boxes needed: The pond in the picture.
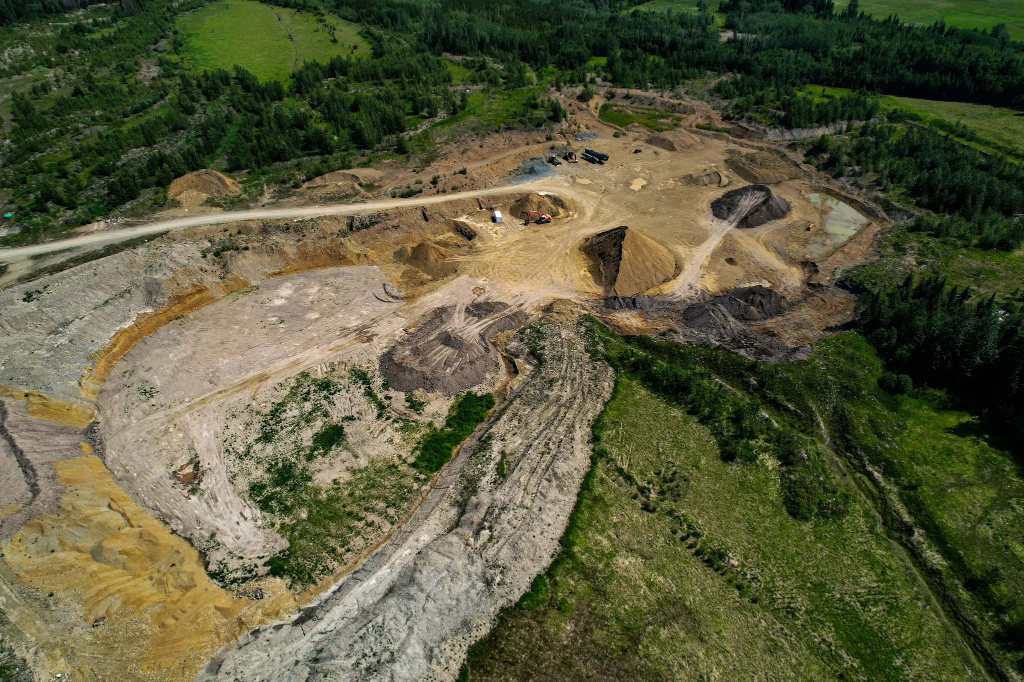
[808,194,869,259]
